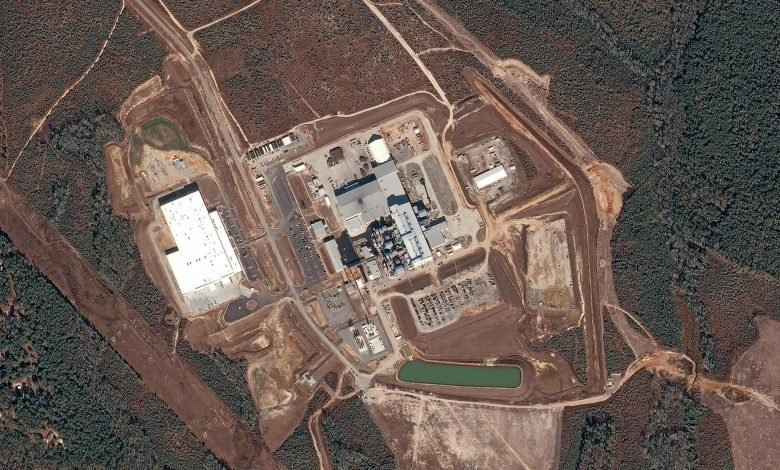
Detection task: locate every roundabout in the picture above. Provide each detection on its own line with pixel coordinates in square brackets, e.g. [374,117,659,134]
[225,289,289,323]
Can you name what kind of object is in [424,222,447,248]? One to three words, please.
shed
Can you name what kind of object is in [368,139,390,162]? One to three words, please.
shed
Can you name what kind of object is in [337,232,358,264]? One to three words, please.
building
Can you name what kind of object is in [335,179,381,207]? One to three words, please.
building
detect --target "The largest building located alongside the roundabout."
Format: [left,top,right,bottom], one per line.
[161,190,233,294]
